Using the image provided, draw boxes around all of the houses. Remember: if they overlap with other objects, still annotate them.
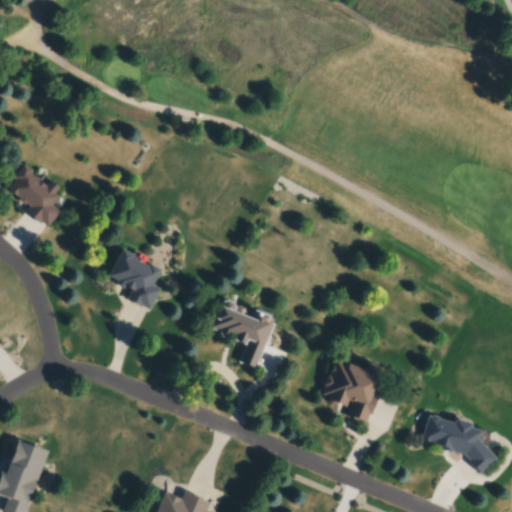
[214,295,278,368]
[156,488,213,512]
[0,440,51,512]
[324,356,379,426]
[9,164,66,228]
[110,250,164,310]
[422,412,503,478]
